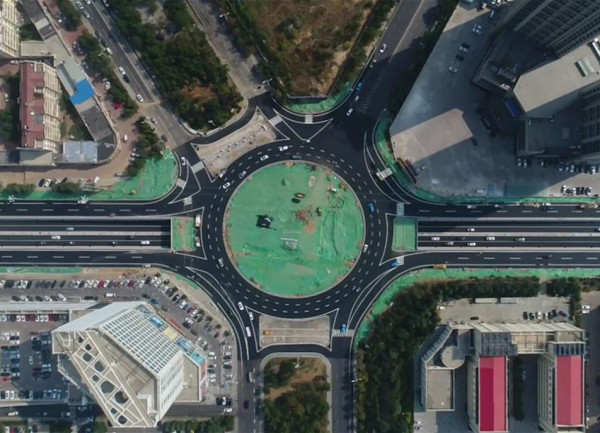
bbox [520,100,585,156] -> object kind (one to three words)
building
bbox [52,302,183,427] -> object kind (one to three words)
building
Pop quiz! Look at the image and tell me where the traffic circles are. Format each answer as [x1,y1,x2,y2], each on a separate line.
[201,138,387,321]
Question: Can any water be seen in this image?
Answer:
No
